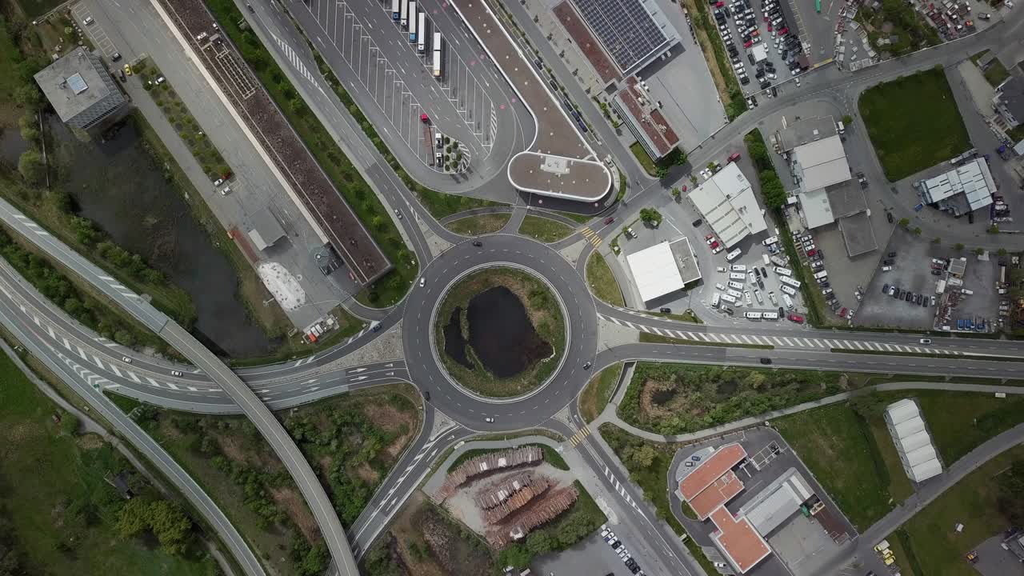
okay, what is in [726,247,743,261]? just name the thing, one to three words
camper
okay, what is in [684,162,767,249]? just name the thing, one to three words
building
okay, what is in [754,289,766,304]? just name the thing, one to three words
vehicle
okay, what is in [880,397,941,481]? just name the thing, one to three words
building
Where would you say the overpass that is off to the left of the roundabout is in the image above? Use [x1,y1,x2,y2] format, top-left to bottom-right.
[0,197,360,576]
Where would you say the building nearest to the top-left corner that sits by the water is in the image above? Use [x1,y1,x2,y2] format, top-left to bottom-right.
[34,47,127,128]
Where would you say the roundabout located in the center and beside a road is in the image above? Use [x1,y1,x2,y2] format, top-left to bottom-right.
[402,234,598,430]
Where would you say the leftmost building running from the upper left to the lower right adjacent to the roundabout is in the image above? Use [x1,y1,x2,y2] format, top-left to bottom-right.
[150,0,395,282]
